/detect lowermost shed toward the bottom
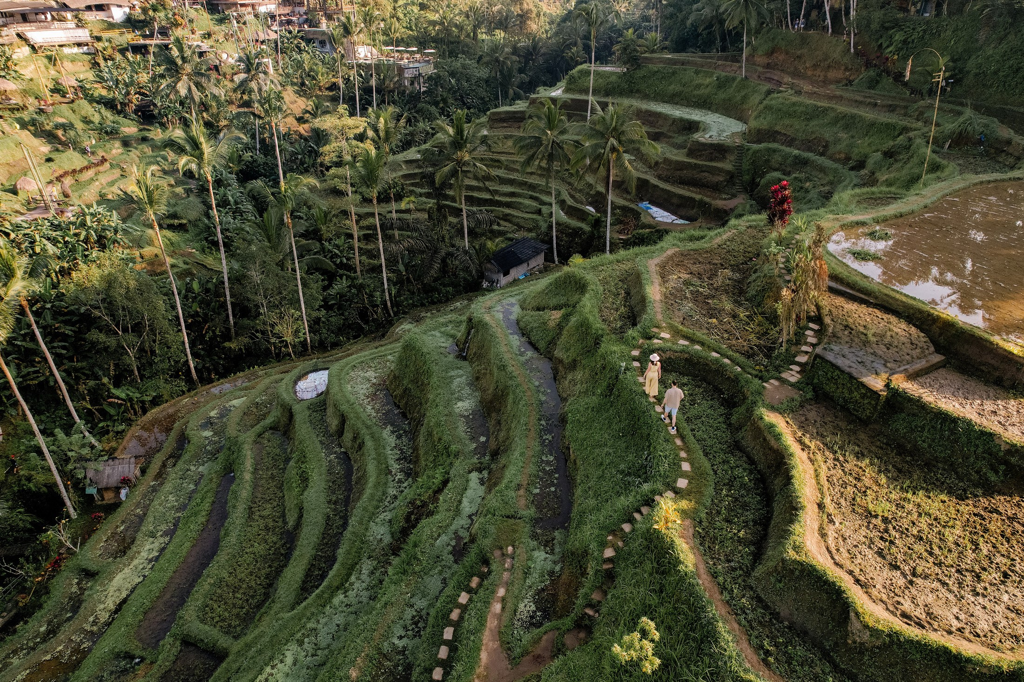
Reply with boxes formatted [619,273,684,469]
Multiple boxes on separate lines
[83,457,140,504]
